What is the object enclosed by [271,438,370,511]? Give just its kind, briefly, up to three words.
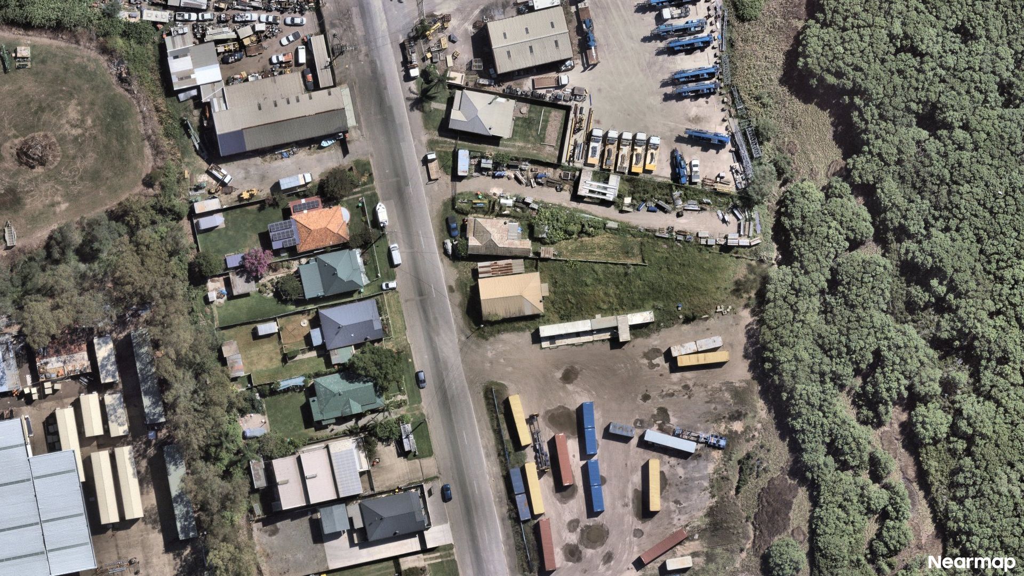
building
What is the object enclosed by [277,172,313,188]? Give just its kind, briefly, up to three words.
vehicle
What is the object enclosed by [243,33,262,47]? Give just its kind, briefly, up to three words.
work vehicle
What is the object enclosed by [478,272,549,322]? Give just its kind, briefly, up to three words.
house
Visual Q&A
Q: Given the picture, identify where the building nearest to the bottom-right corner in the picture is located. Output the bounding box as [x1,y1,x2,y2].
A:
[539,314,631,349]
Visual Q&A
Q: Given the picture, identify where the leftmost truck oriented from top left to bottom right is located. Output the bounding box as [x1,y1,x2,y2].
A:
[206,163,234,186]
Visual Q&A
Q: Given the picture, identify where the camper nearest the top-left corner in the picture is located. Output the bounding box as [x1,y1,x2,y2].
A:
[143,10,174,22]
